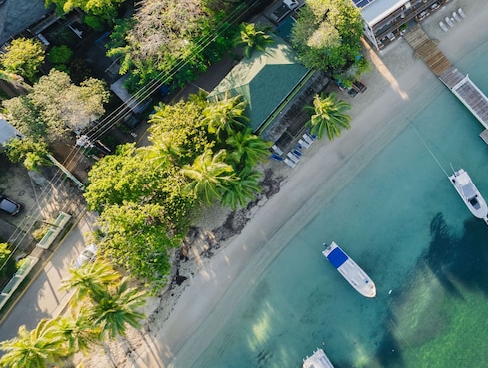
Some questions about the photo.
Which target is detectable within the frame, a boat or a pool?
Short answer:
boat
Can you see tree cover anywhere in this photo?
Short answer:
Yes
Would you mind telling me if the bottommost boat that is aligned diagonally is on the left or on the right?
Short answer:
right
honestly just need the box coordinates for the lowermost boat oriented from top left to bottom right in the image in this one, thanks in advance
[318,242,379,302]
